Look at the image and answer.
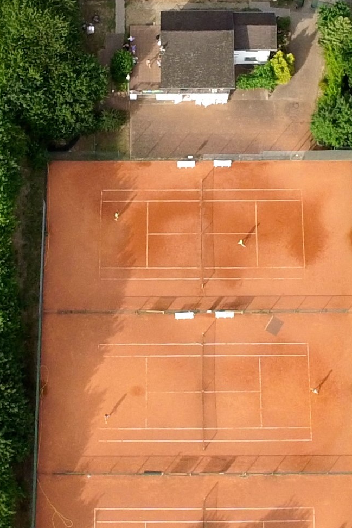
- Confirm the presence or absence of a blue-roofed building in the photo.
No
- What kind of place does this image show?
sports ground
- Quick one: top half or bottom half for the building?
top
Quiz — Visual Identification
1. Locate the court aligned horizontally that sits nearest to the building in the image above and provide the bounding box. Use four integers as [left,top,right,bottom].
[41,160,352,311]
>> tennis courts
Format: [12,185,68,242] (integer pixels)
[35,309,352,475]
[34,473,352,528]
[41,160,352,311]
